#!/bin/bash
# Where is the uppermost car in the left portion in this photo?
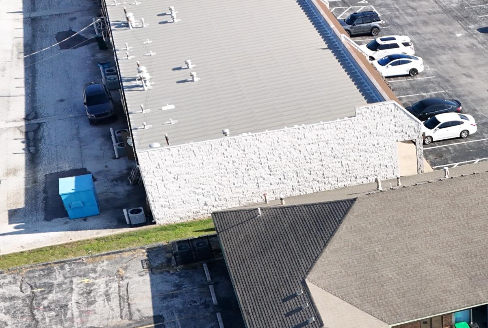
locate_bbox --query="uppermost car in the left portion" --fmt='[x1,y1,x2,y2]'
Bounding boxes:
[83,80,117,124]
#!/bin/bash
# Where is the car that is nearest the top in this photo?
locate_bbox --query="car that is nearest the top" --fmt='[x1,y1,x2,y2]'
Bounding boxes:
[340,8,383,36]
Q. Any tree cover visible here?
No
